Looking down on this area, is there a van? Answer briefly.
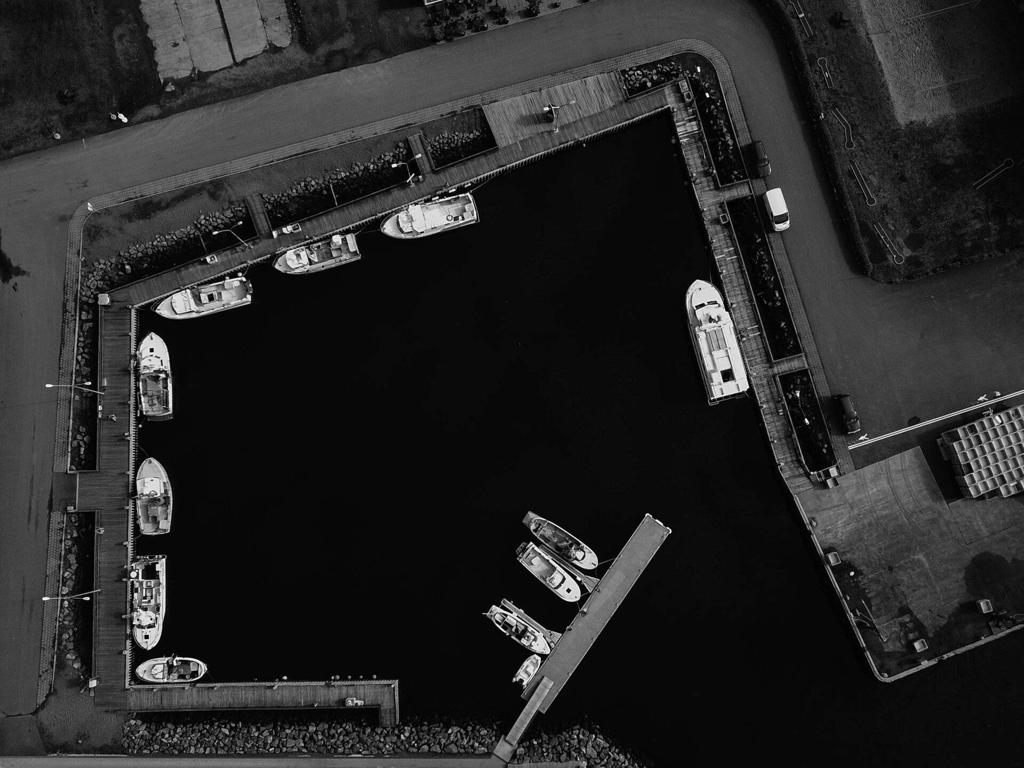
Yes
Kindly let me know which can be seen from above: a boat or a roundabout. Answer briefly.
boat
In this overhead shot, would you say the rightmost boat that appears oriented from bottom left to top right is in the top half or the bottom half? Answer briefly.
bottom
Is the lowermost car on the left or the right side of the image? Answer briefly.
right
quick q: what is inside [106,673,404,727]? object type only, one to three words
pier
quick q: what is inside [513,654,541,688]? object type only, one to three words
boat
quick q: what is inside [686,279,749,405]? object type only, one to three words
boat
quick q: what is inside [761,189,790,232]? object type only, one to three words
van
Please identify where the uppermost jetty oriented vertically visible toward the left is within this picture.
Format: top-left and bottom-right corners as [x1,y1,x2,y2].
[67,304,145,708]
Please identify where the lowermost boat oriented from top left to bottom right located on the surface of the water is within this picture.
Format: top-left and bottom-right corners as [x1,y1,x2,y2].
[482,604,550,654]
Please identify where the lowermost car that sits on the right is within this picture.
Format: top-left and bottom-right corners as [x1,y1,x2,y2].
[833,395,862,433]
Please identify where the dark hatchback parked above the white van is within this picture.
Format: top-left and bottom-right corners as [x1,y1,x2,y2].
[749,142,772,178]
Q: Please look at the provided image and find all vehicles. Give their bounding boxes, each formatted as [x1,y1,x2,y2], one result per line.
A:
[833,395,862,433]
[749,142,772,178]
[761,189,790,232]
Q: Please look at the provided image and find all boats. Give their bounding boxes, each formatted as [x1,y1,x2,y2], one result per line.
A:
[132,458,175,535]
[516,542,581,602]
[381,184,479,239]
[686,279,749,405]
[482,604,550,654]
[135,653,209,682]
[136,332,175,420]
[513,654,541,688]
[272,234,361,273]
[151,273,254,318]
[522,511,598,570]
[131,555,169,650]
